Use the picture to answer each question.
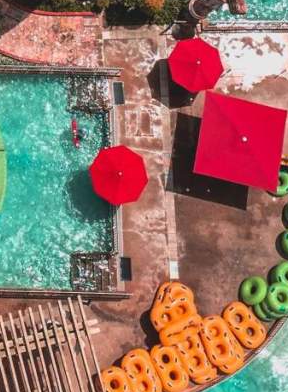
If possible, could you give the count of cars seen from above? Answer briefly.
none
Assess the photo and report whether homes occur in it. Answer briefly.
No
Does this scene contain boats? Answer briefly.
No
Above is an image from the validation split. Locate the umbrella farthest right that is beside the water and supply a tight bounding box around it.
[167,37,223,93]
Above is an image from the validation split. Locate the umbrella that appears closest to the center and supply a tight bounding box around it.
[88,145,149,205]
